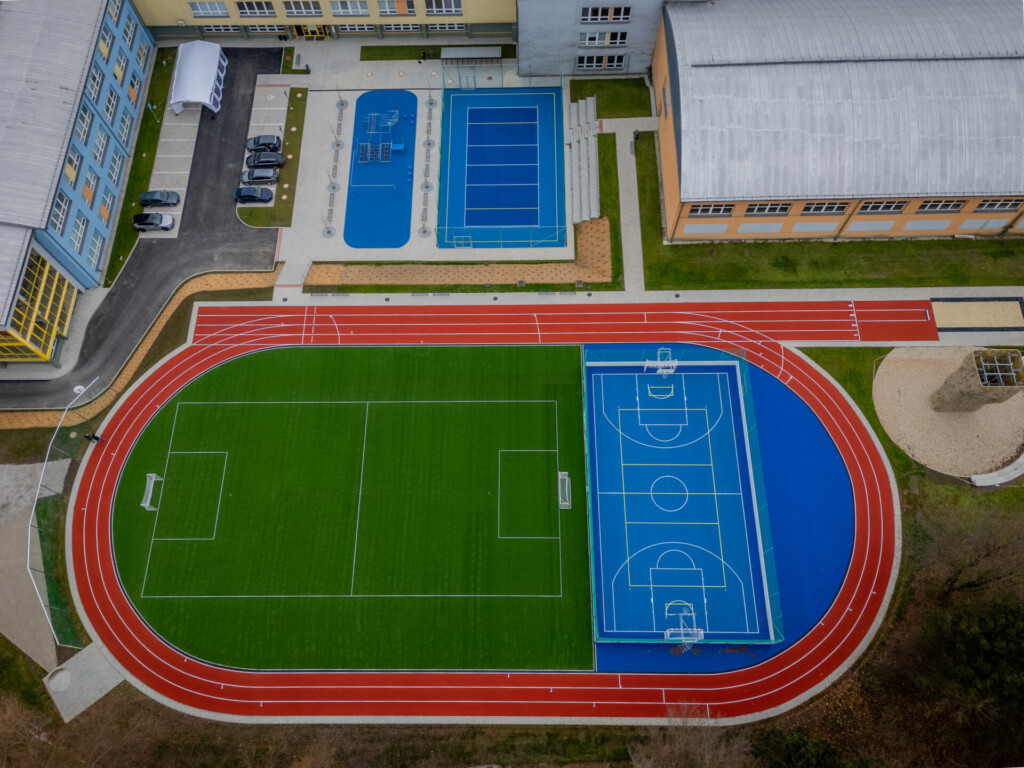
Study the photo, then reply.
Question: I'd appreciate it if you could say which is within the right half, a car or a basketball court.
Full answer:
It is a basketball court that can be seen within the right half.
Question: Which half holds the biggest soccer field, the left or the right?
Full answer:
You can find the biggest soccer field on the left side of the picture.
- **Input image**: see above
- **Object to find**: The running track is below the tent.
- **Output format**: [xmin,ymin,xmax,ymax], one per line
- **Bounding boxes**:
[65,301,939,726]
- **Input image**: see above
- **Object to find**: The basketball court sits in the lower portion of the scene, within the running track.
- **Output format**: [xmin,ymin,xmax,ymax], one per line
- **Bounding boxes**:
[587,366,771,641]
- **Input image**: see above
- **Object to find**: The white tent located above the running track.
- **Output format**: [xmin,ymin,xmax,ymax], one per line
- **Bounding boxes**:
[169,38,232,116]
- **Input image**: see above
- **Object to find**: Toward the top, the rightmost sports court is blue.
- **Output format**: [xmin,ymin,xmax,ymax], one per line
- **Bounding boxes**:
[437,87,565,248]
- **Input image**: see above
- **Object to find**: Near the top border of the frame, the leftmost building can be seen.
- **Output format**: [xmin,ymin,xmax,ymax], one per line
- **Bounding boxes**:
[0,0,156,286]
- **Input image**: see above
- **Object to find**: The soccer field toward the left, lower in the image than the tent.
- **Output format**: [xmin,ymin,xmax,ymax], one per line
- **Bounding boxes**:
[111,344,596,670]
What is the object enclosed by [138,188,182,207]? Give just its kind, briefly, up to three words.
car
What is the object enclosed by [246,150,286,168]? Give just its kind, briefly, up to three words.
car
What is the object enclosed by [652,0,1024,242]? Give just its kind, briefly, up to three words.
building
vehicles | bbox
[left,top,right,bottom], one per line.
[138,188,182,207]
[232,185,273,203]
[241,166,280,185]
[246,150,286,168]
[131,211,176,231]
[246,134,282,152]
